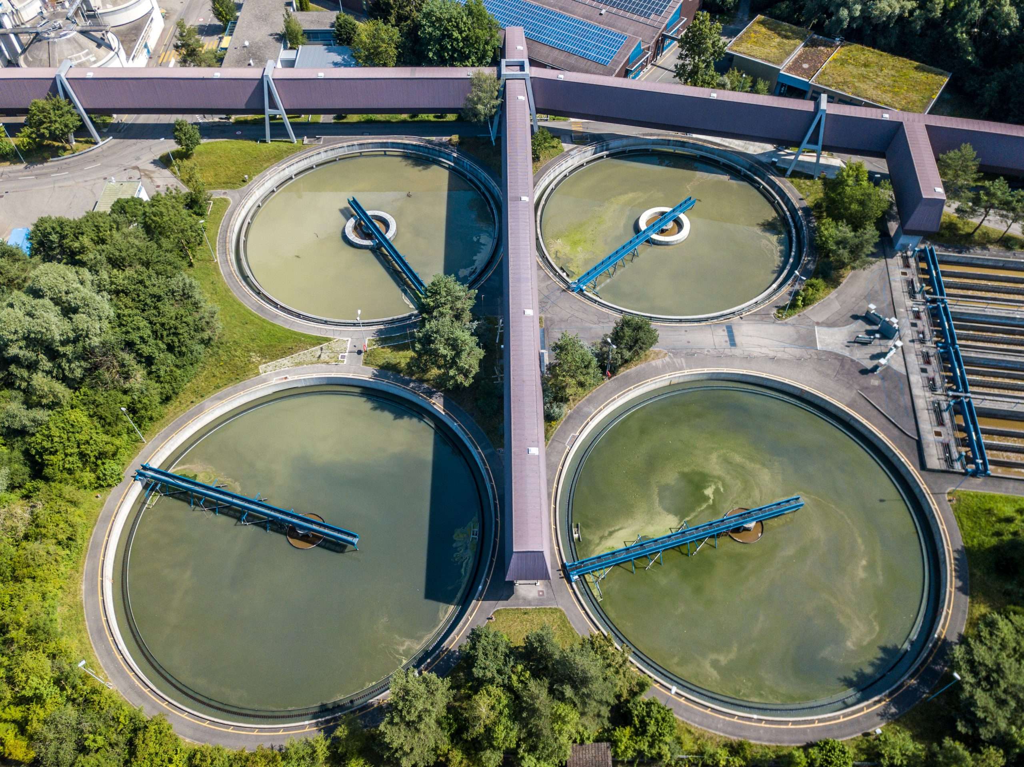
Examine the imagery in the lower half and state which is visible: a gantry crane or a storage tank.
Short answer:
storage tank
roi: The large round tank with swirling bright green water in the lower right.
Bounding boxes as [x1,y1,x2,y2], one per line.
[552,367,955,727]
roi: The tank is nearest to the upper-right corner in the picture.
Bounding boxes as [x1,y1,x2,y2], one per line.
[532,128,808,325]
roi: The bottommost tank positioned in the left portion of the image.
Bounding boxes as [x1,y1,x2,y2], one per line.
[98,369,500,735]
